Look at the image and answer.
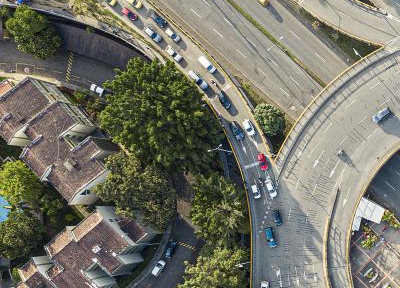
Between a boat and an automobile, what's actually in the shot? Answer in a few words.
automobile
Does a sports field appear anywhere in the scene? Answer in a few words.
No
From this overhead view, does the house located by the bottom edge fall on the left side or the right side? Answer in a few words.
left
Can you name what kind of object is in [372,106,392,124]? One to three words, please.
car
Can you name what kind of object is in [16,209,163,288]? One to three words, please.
house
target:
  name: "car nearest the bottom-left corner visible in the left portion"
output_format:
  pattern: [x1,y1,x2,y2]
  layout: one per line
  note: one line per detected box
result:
[151,258,168,278]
